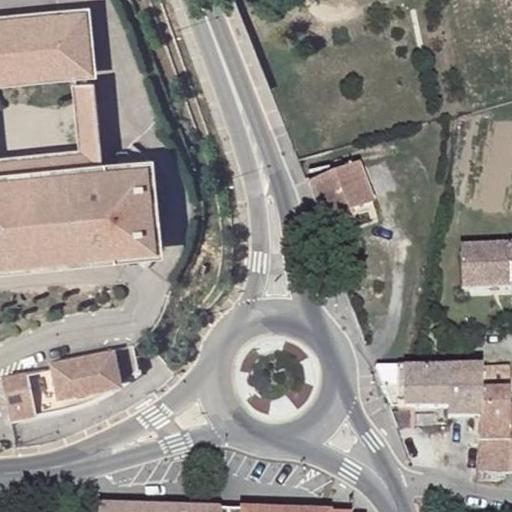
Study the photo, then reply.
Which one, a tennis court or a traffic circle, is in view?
traffic circle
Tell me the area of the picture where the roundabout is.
bottom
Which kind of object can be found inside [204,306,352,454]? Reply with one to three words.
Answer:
roundabout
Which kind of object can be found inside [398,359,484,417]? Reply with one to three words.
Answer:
building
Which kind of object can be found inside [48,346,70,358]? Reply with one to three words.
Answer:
vehicle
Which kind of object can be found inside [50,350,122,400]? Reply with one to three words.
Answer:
house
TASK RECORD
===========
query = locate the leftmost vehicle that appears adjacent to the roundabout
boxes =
[250,460,266,480]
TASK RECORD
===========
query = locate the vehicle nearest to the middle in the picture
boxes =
[372,226,394,240]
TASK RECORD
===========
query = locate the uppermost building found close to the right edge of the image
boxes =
[461,240,512,298]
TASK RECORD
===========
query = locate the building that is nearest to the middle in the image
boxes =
[310,160,375,211]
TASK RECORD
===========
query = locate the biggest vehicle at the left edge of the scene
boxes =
[19,352,47,368]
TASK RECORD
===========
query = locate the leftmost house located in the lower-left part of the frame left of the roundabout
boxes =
[2,369,49,418]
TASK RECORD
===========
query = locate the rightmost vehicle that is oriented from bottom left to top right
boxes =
[274,464,292,485]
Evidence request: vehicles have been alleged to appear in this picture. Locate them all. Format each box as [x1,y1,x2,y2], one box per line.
[452,422,462,442]
[19,352,47,368]
[372,226,394,240]
[144,486,167,496]
[464,496,488,509]
[274,464,292,485]
[488,500,508,512]
[250,460,266,480]
[48,346,70,358]
[404,436,418,458]
[468,448,478,468]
